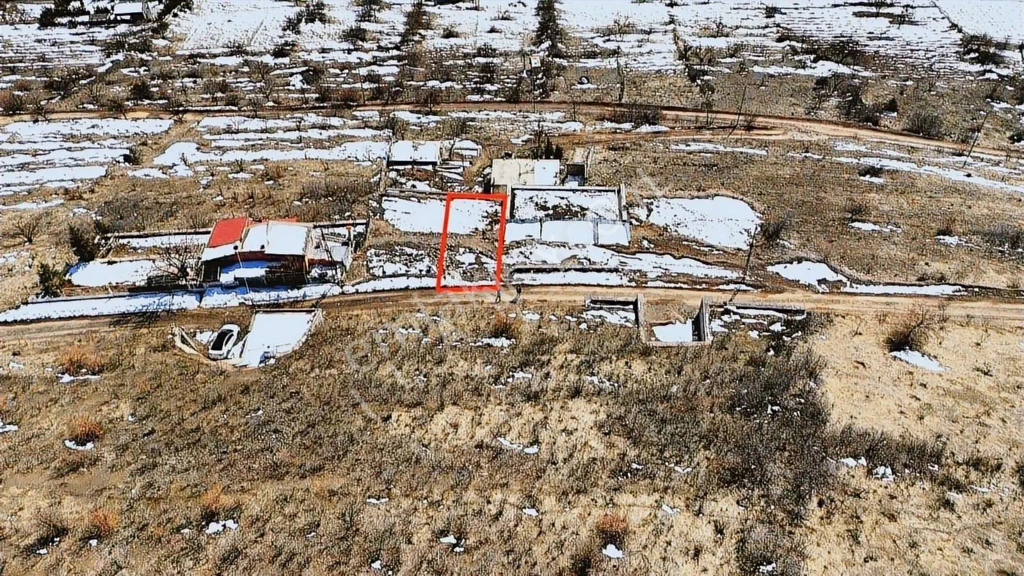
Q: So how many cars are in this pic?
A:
1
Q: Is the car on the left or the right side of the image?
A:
left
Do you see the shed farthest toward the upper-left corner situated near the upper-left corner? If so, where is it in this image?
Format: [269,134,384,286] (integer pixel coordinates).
[114,2,146,24]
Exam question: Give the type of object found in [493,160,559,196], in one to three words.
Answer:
building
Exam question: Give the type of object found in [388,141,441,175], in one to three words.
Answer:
shed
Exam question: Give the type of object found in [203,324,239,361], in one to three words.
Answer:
car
